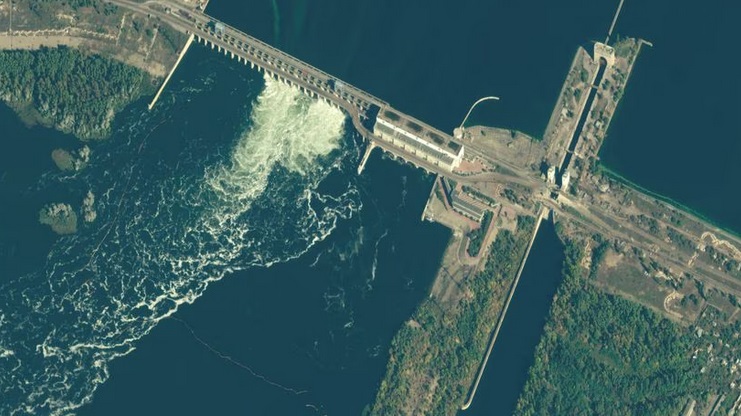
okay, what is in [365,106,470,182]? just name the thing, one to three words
building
